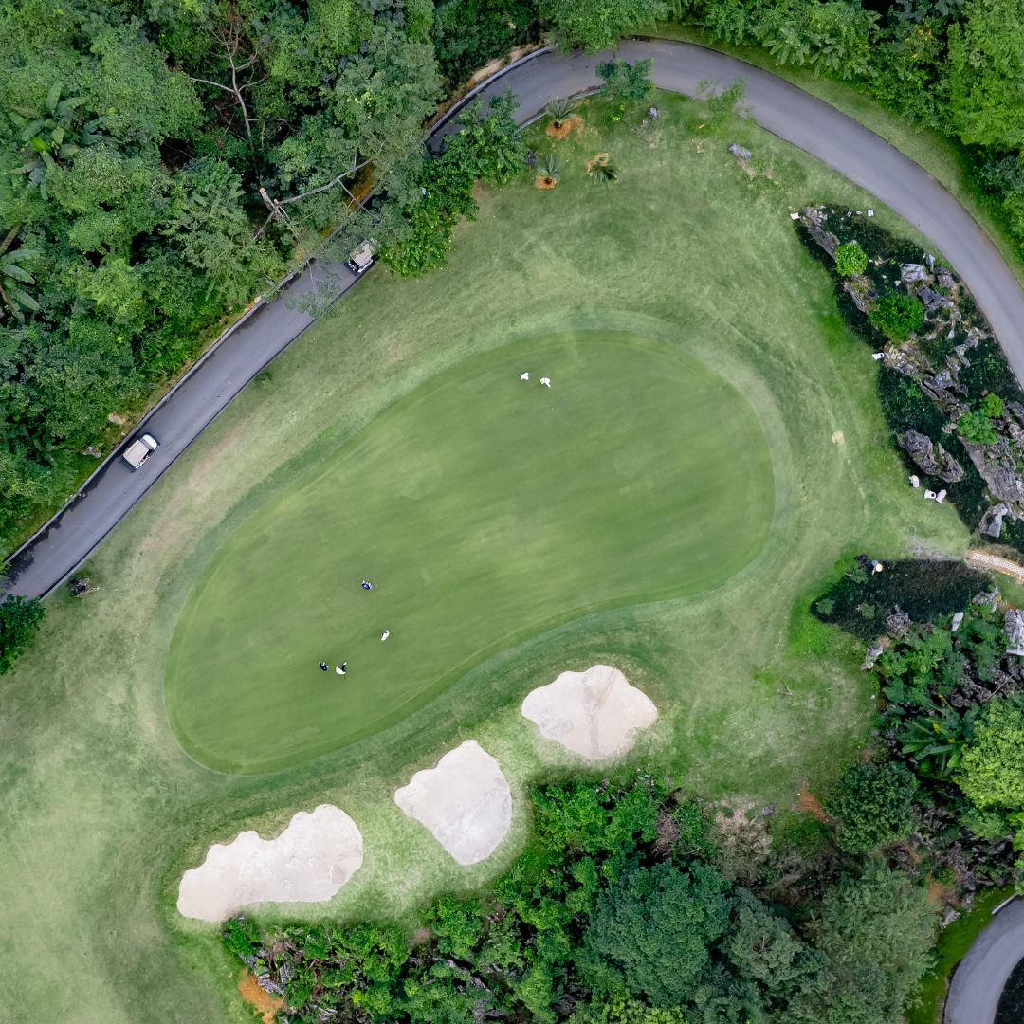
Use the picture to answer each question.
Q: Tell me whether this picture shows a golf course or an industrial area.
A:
golf course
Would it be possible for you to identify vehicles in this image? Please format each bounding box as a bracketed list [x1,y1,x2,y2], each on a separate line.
[346,241,379,276]
[122,435,159,468]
